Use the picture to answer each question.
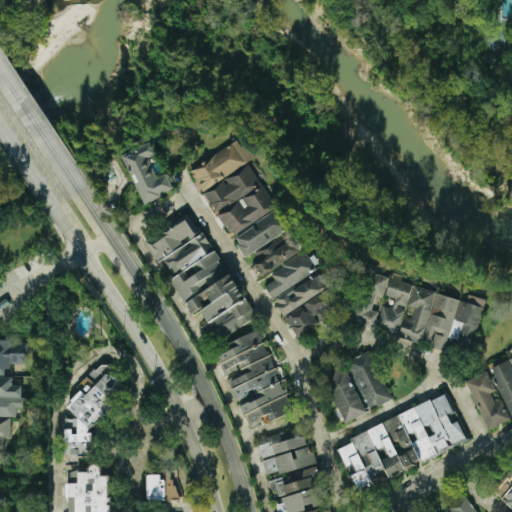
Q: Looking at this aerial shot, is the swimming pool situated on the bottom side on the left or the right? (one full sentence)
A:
It is on the left.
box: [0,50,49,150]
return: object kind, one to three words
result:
bridge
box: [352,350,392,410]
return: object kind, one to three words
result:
house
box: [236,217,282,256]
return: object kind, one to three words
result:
house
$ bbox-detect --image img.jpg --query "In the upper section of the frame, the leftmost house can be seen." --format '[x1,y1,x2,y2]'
[122,143,172,202]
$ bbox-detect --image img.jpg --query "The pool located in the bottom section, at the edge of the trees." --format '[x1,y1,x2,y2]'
[72,307,96,340]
